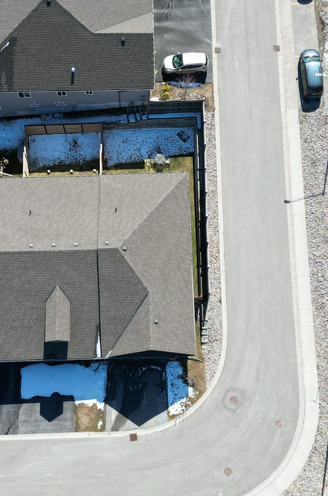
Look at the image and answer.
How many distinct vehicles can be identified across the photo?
2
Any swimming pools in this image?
No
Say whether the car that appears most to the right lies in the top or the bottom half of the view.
top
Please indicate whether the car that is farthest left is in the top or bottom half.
top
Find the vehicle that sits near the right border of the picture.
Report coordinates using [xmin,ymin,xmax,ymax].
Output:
[298,50,324,102]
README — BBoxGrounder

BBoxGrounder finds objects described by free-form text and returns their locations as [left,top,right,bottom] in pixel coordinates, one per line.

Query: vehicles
[298,50,324,102]
[160,53,211,80]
